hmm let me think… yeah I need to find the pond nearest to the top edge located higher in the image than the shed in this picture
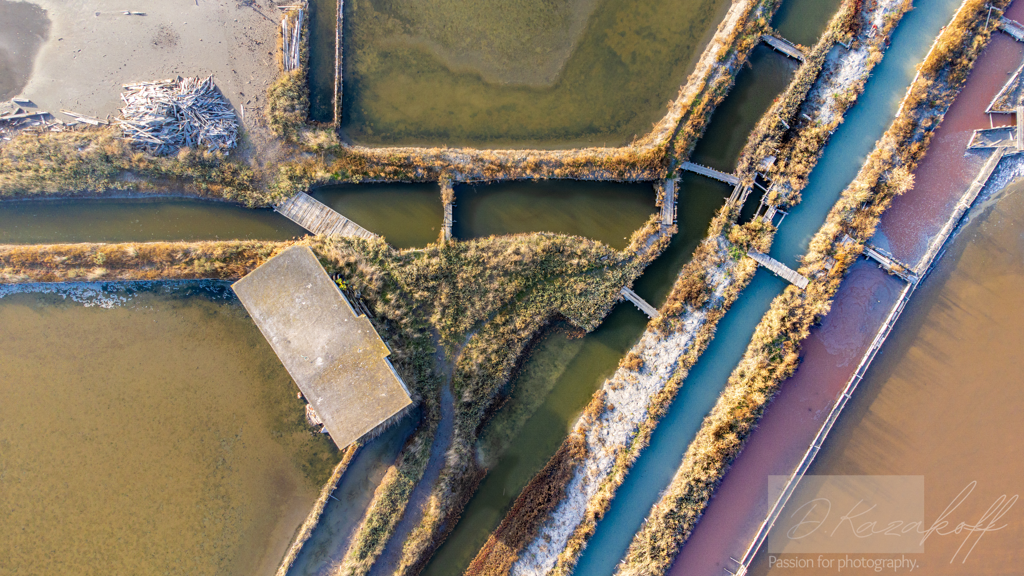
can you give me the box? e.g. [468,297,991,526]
[342,0,731,151]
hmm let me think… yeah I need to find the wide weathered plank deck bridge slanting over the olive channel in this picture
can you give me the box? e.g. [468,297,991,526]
[271,191,377,257]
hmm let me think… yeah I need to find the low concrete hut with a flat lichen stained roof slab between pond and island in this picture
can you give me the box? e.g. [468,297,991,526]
[231,244,413,450]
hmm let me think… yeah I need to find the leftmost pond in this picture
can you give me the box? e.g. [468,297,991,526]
[0,279,359,576]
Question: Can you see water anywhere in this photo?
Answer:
Yes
